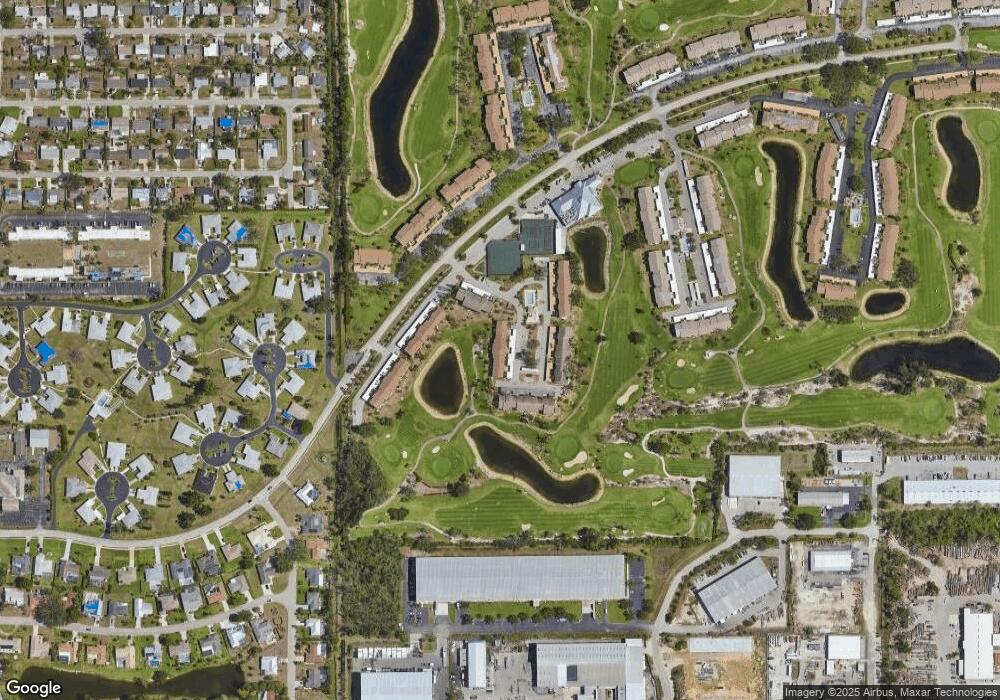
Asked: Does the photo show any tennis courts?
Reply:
Yes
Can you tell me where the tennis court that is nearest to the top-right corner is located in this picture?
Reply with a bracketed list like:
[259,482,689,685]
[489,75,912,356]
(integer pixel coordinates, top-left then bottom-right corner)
[520,219,556,255]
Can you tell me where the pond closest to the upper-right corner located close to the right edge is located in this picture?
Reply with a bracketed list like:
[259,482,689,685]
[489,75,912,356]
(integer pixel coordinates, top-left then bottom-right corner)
[938,115,981,212]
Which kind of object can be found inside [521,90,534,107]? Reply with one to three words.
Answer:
swimming pool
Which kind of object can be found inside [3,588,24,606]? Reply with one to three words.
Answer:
house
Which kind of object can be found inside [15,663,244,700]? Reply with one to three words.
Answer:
pond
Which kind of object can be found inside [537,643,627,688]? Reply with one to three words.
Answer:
building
